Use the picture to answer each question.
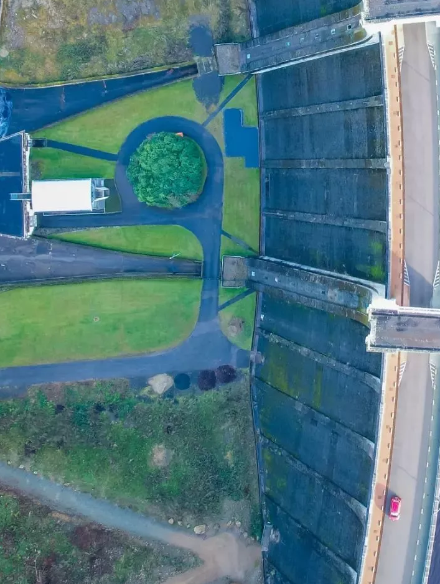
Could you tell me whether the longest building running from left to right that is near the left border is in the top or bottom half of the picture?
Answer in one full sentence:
Seen from above, the longest building running from left to right that is near the left border lies in the top half of the view.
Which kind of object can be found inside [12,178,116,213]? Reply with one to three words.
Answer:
building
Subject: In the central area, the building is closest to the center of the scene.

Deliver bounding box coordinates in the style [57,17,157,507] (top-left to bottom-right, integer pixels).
[221,255,257,288]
